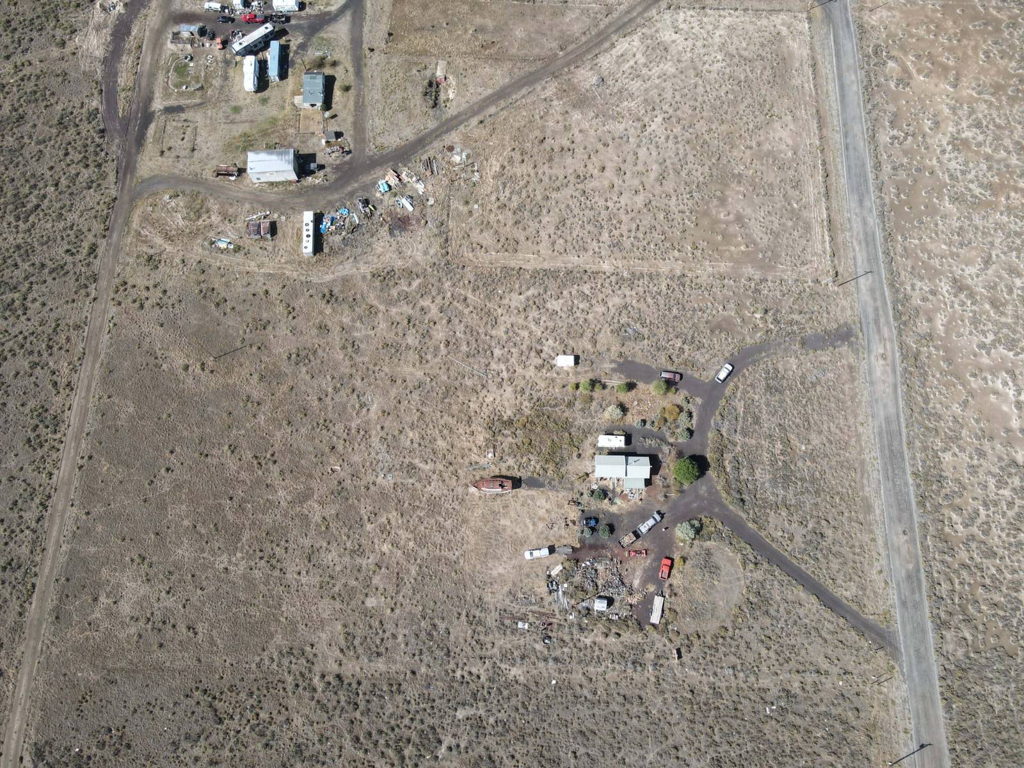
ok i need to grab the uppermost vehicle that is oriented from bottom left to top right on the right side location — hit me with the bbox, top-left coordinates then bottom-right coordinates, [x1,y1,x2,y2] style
[714,363,733,385]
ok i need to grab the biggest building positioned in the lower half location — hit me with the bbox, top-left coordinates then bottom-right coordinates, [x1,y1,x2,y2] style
[594,455,652,490]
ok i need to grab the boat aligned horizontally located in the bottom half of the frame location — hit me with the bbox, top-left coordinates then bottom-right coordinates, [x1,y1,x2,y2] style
[470,477,512,493]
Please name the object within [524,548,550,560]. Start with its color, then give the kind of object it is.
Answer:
white vehicle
